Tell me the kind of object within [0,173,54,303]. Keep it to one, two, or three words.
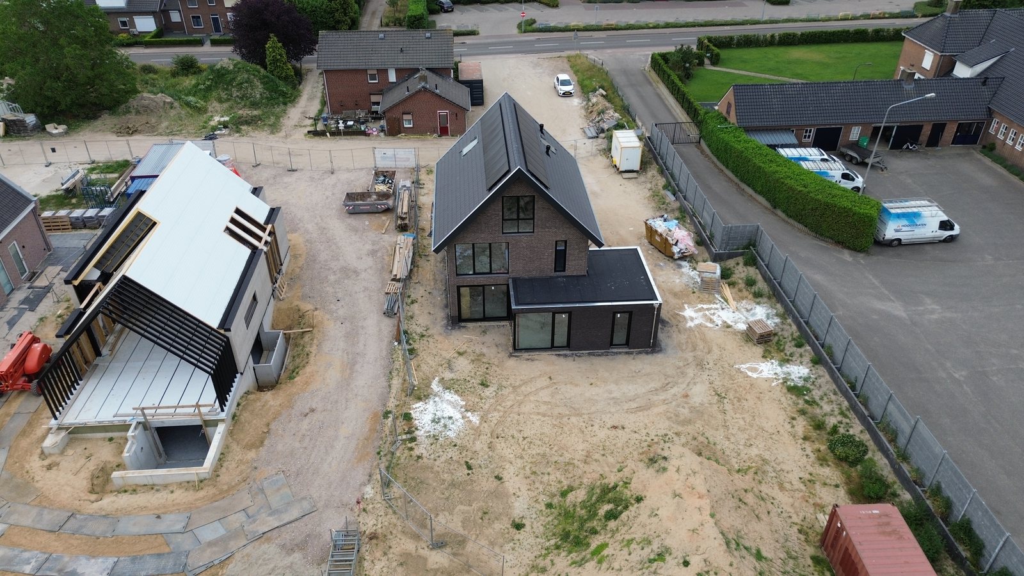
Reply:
house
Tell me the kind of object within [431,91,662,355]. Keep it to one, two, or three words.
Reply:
house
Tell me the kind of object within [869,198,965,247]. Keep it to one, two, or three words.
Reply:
van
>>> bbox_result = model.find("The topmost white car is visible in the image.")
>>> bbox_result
[555,73,575,94]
